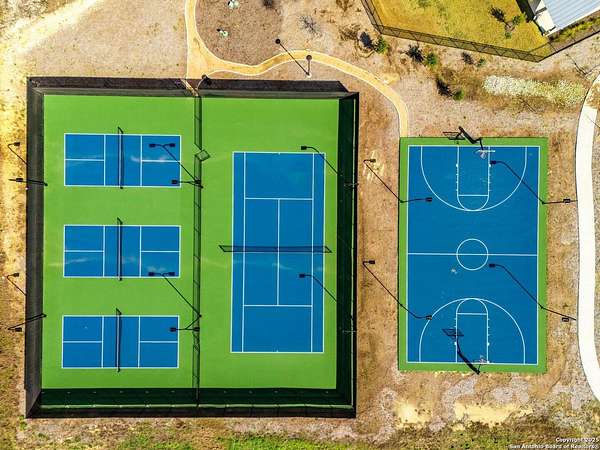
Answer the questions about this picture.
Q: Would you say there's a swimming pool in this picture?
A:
No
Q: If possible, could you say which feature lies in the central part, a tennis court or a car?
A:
tennis court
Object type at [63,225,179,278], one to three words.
sports court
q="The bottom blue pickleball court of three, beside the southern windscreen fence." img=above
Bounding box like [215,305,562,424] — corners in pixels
[63,316,178,370]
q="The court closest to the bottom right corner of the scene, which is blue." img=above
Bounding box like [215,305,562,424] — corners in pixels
[398,136,548,373]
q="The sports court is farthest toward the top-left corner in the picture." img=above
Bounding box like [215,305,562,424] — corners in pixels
[64,134,180,187]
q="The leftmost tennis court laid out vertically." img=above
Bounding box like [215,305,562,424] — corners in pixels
[231,151,325,353]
